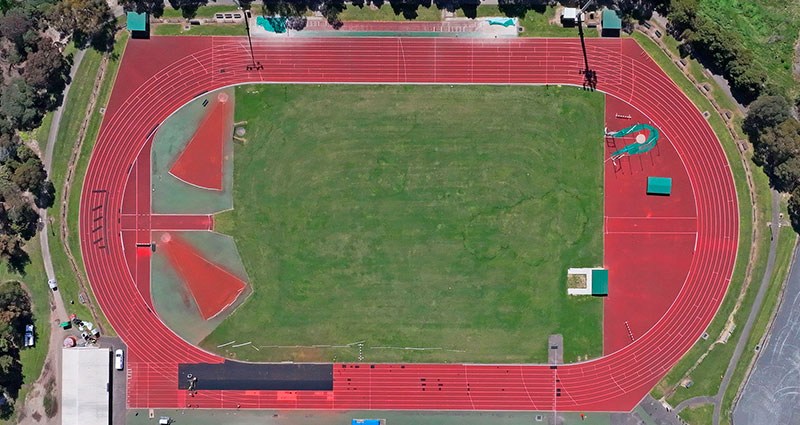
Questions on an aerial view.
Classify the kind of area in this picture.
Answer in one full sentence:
The picture captures a sports ground.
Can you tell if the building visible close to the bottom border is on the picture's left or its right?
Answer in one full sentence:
The building visible close to the bottom border appears in the left half of the scene.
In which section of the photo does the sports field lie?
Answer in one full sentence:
The sports field appears toward the center of the photo.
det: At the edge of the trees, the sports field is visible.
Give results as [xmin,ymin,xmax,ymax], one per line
[200,83,604,364]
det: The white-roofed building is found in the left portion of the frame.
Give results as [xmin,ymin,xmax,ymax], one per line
[61,347,112,425]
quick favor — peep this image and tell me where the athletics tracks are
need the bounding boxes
[79,36,740,412]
